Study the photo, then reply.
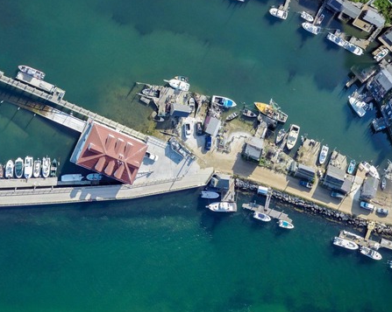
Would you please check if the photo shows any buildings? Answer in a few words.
Yes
